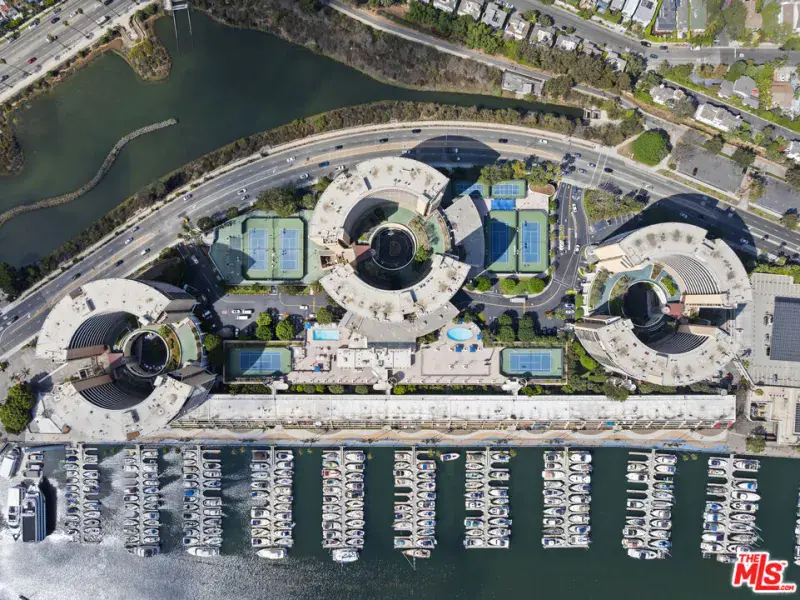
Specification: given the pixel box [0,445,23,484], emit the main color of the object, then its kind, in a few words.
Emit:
white boat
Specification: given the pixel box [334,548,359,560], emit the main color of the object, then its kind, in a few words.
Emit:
white boat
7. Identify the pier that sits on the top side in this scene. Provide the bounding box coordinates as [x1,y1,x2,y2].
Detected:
[0,117,179,223]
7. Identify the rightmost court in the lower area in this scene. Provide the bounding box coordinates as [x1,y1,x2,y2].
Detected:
[501,348,565,379]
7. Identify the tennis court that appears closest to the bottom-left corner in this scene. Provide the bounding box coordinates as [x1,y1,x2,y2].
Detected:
[227,347,291,379]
